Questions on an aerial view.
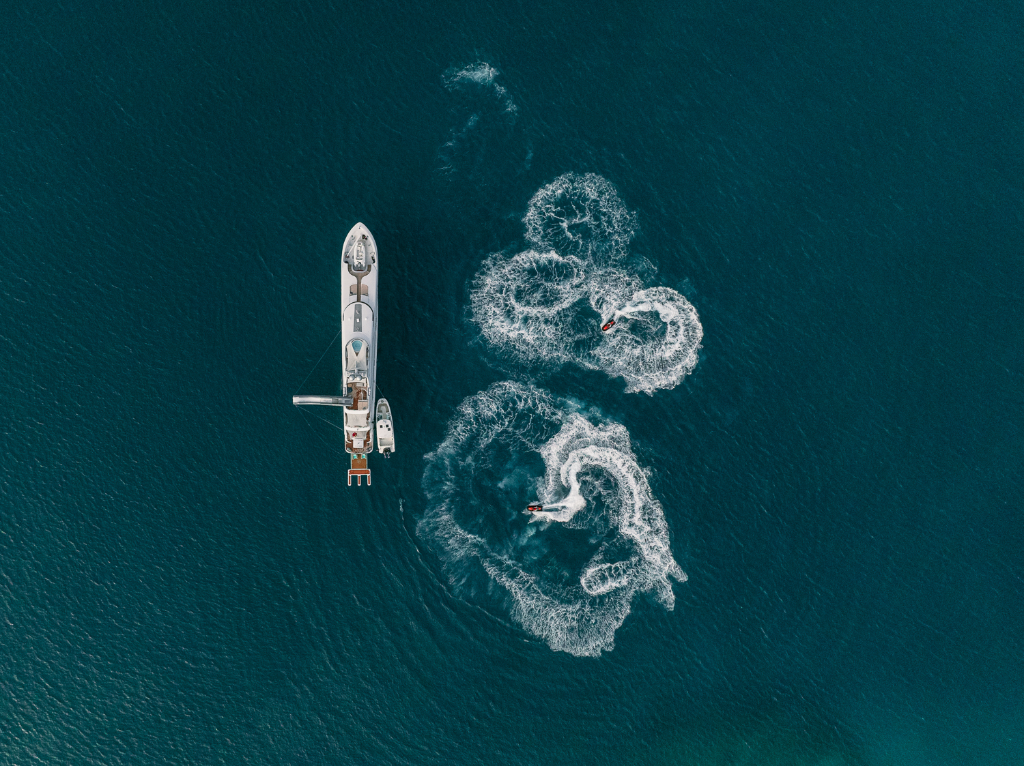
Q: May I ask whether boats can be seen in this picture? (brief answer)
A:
Yes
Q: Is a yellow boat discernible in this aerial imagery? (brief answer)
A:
No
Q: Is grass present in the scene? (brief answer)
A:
No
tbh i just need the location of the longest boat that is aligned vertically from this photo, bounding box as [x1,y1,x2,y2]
[342,222,380,453]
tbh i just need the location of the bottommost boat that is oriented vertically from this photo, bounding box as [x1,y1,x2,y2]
[376,398,395,458]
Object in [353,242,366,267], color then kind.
white boat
